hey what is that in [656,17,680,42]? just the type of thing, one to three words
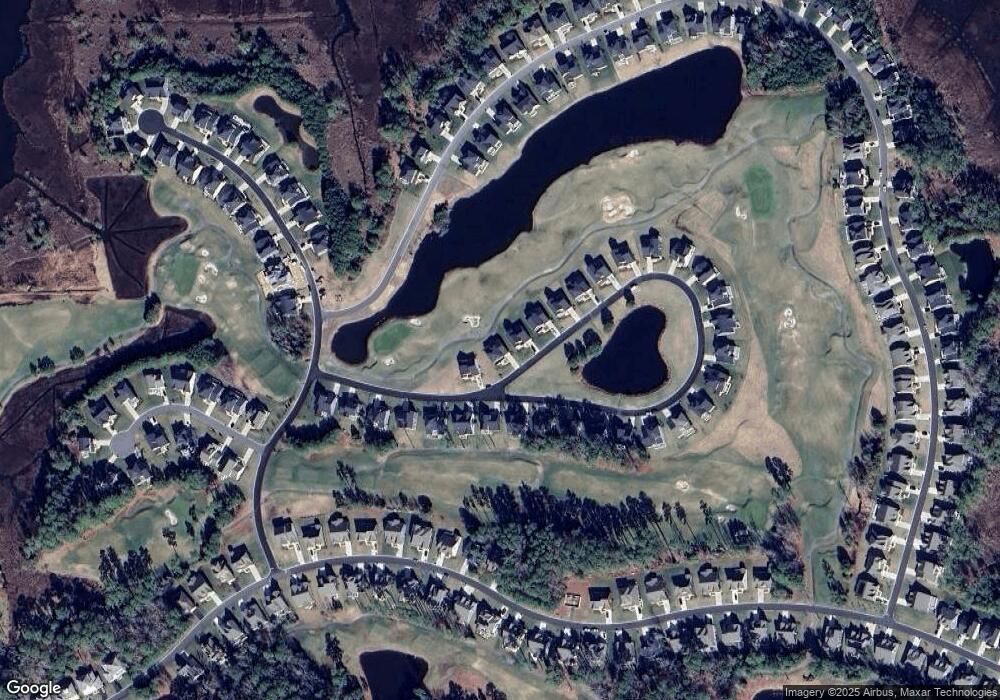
house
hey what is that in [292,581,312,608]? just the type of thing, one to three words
house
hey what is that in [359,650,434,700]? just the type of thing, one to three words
pond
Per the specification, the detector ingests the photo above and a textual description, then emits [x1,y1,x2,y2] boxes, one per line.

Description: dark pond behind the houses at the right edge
[951,239,996,306]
